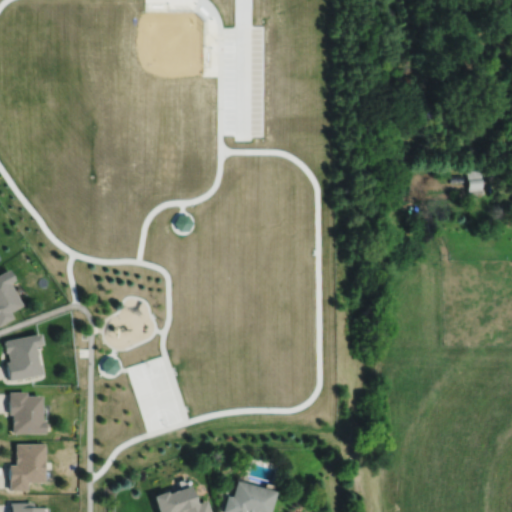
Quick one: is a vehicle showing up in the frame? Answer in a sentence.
No, no vehicle is visible in the scene.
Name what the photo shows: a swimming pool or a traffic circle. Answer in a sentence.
This aerial view contains a swimming pool.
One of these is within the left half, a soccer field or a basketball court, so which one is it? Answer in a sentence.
It is a basketball court that can be seen within the left half.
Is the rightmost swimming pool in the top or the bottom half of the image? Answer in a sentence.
It is in the bottom half that the rightmost swimming pool appears.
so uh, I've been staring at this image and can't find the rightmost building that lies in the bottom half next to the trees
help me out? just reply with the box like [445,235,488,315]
[226,482,279,512]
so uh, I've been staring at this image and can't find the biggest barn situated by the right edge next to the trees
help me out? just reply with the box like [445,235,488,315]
[469,173,486,196]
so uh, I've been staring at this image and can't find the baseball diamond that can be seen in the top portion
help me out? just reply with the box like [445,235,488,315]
[138,0,218,78]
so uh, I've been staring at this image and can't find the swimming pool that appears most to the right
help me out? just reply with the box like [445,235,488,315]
[246,461,275,490]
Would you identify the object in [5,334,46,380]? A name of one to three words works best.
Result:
house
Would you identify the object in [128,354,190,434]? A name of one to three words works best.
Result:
basketball court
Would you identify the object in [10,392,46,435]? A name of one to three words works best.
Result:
house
